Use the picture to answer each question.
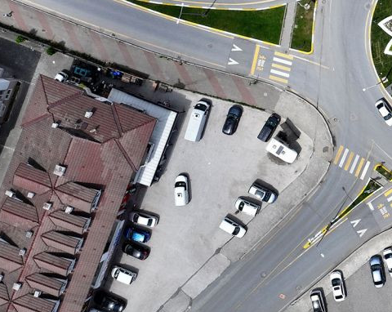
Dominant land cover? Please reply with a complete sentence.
The largest share of the image is taken up by paved ground.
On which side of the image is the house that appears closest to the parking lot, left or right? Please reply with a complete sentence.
You can find the house that appears closest to the parking lot on the left side of the picture.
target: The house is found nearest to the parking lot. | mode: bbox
[0,73,157,312]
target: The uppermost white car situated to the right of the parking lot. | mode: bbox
[375,97,392,126]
